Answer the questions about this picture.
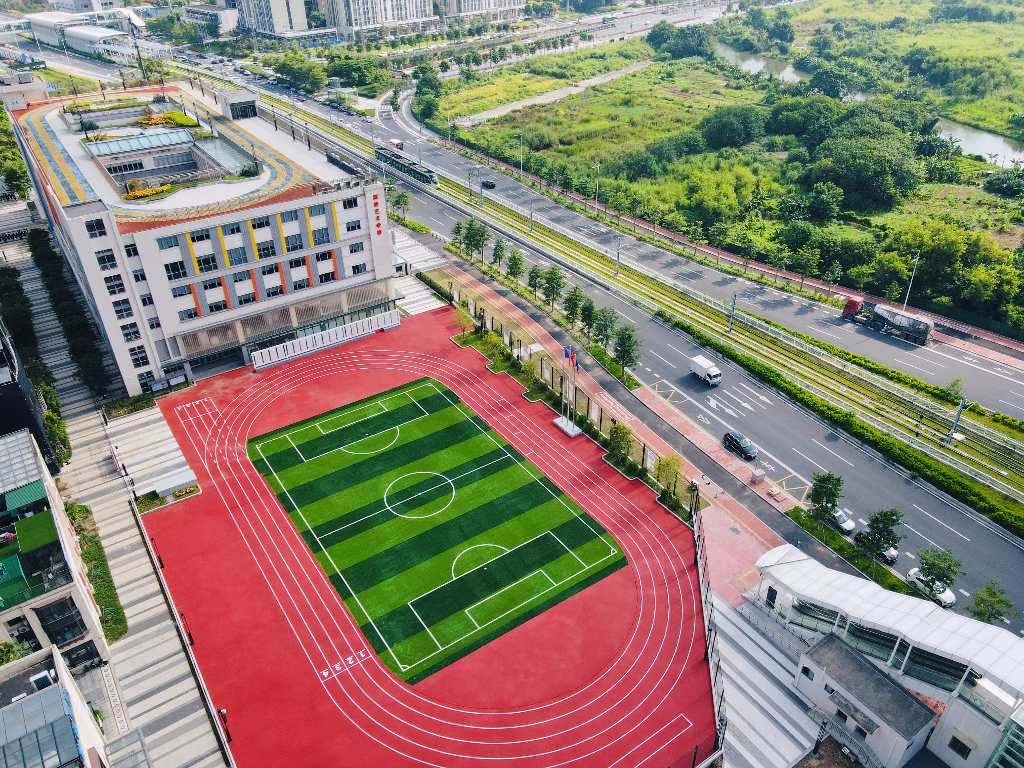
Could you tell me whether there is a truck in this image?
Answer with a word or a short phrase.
Yes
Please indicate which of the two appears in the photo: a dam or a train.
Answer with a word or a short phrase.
train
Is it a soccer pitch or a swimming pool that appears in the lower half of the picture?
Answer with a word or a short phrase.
soccer pitch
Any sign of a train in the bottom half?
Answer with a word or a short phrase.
No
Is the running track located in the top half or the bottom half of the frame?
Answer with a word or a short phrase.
bottom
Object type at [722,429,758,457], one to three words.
car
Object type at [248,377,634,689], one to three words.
soccer field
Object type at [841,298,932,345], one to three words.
truck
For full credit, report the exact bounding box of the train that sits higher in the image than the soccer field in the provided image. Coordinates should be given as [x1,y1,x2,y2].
[369,145,439,188]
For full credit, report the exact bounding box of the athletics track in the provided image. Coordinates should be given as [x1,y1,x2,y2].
[140,304,720,768]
